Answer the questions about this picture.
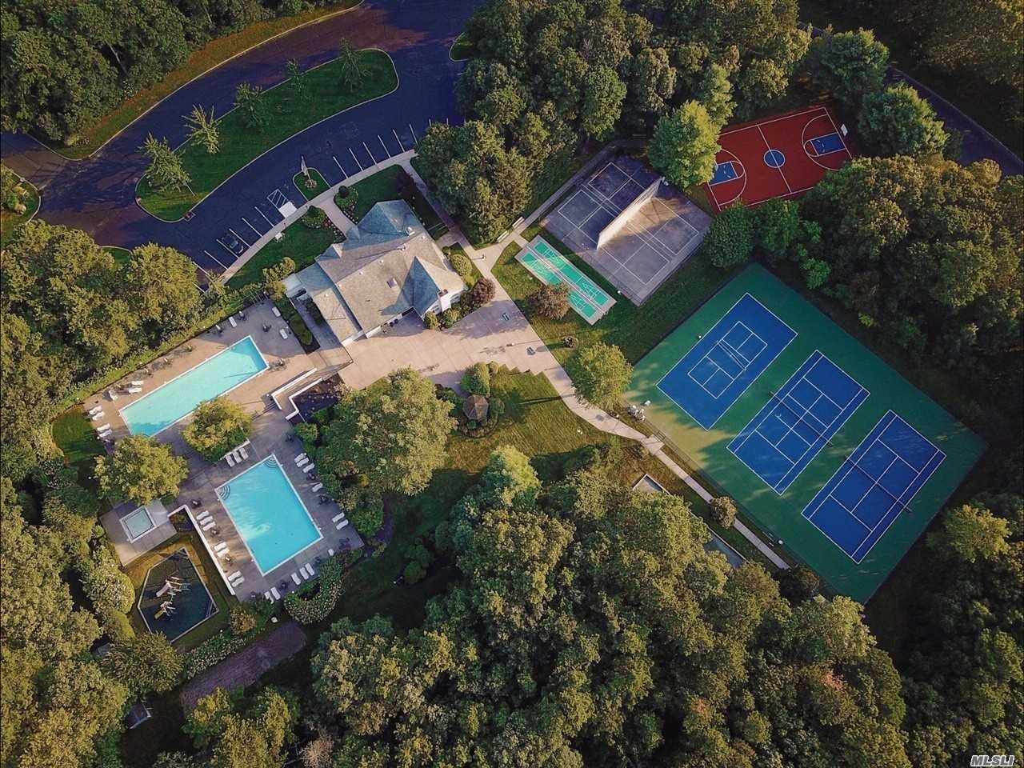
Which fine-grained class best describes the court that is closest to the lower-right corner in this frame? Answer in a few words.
tennis court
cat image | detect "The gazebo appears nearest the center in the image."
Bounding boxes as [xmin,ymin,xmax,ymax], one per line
[464,397,489,425]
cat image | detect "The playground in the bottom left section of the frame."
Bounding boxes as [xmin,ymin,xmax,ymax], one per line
[136,546,220,637]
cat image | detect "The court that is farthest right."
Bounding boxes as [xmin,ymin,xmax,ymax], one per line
[803,409,948,563]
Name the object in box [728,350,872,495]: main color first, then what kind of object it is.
blue tennis court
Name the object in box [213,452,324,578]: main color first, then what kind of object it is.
blue swimming pool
